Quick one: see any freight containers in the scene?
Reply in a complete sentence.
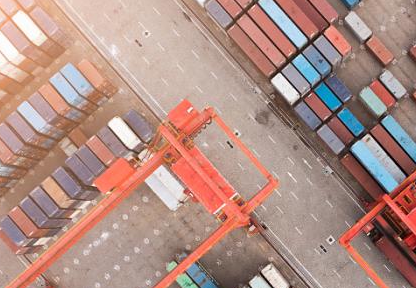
Yes, the photo shows a freight container.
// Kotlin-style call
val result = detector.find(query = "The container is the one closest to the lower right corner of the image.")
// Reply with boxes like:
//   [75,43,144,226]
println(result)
[374,237,416,288]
